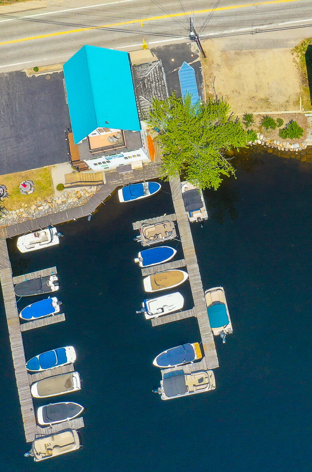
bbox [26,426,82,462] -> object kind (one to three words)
boat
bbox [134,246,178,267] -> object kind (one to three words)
boat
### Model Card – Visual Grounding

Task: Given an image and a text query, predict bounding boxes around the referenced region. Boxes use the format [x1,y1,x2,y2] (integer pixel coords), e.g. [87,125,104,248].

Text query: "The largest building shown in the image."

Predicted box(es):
[64,43,148,186]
